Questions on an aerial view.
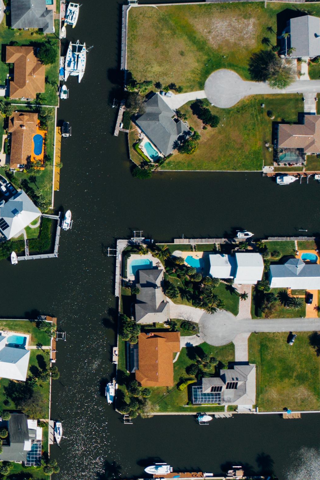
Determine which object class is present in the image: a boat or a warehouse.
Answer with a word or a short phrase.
boat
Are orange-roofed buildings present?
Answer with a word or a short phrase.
Yes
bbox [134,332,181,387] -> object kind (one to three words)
house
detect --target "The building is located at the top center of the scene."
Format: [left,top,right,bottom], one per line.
[134,93,189,155]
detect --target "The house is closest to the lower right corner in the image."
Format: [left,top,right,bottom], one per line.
[199,365,257,405]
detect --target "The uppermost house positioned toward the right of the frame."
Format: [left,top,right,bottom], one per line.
[282,15,320,59]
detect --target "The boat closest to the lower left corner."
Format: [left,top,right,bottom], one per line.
[53,421,69,444]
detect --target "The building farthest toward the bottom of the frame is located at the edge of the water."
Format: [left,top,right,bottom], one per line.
[0,413,43,462]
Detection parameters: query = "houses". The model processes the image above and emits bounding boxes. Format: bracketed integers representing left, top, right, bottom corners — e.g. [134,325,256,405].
[9,0,53,35]
[267,259,320,289]
[134,269,172,323]
[0,336,30,379]
[134,332,181,387]
[199,365,257,405]
[206,253,266,284]
[5,46,45,99]
[0,413,43,462]
[282,15,320,59]
[7,112,38,168]
[275,115,320,154]
[0,190,44,241]
[134,93,189,155]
